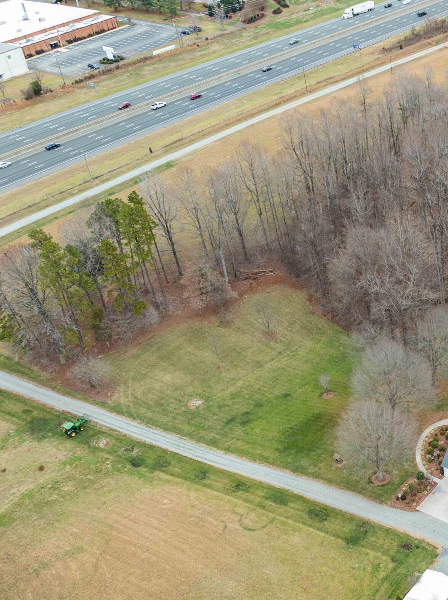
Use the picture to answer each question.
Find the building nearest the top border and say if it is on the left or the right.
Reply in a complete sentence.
You can find the building nearest the top border on the left side of the picture.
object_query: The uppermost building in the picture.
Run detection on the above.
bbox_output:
[0,0,120,58]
